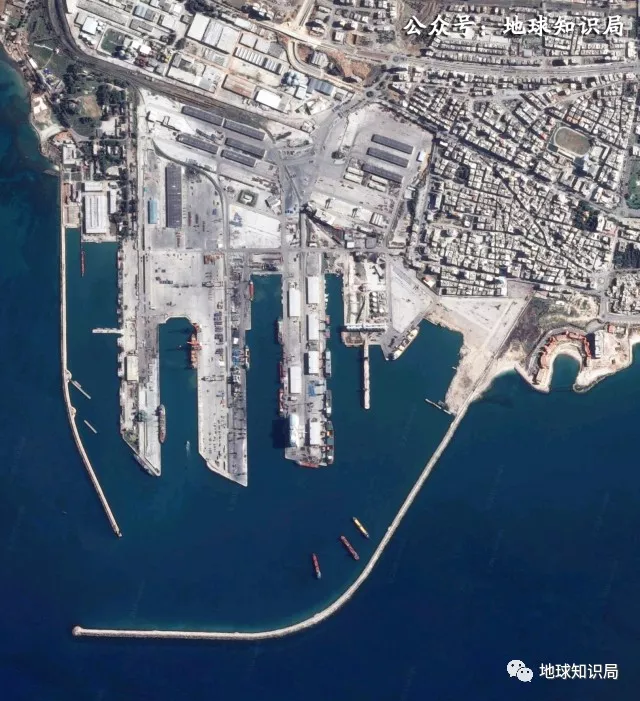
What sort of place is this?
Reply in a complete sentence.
The area seen from above is a port.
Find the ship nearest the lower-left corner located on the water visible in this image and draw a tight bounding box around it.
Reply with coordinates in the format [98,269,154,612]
[133,455,157,479]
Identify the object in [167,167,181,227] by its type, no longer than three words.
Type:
building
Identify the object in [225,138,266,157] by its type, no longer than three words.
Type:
building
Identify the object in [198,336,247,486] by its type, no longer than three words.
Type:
pier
